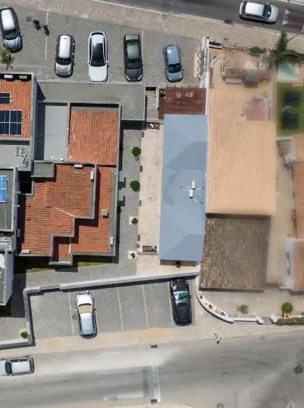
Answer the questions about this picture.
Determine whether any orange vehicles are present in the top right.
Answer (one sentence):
No, I see no orange vehicle in the top right.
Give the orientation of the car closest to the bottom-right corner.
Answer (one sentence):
In this picture, the car closest to the bottom-right corner lies vertically.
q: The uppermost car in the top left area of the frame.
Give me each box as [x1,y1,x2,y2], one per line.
[0,7,22,52]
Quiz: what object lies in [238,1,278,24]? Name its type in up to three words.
car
